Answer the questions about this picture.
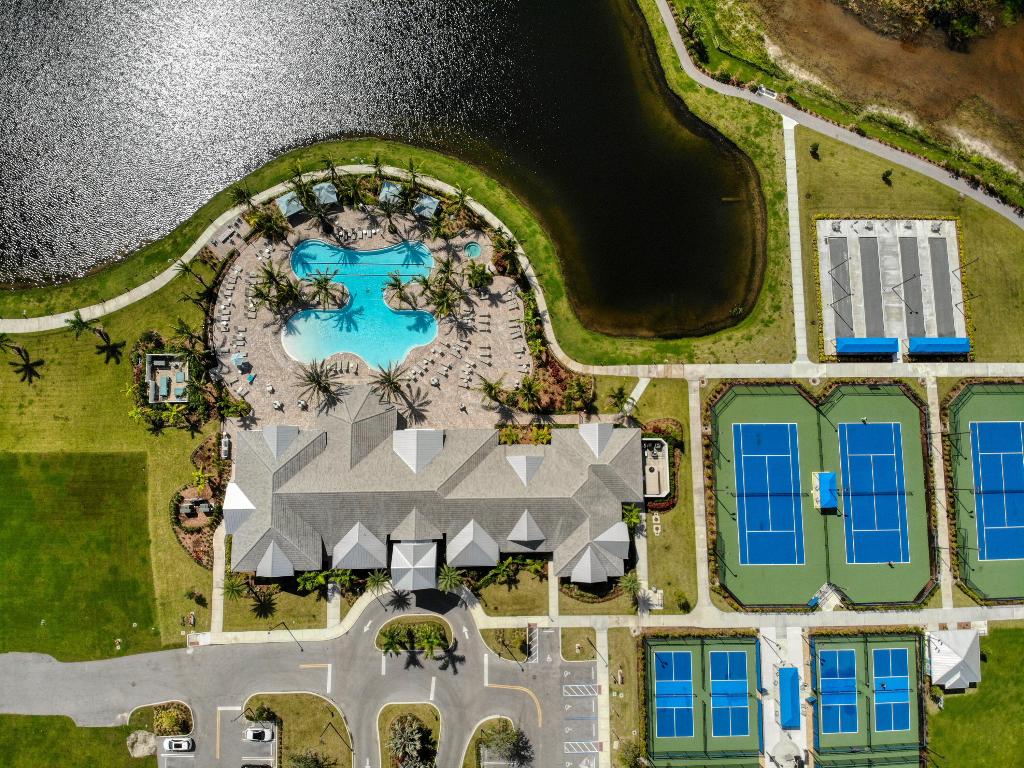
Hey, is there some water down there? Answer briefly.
Yes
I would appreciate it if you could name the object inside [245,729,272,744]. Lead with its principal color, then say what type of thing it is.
white car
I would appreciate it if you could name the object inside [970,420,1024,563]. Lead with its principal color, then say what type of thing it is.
blue tennis court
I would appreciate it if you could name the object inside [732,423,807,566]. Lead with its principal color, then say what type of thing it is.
blue tennis court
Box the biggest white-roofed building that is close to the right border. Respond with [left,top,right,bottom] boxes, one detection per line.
[920,627,980,689]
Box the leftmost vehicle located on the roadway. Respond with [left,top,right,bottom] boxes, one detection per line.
[163,739,190,754]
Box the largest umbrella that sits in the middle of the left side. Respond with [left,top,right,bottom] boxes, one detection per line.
[230,352,246,366]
